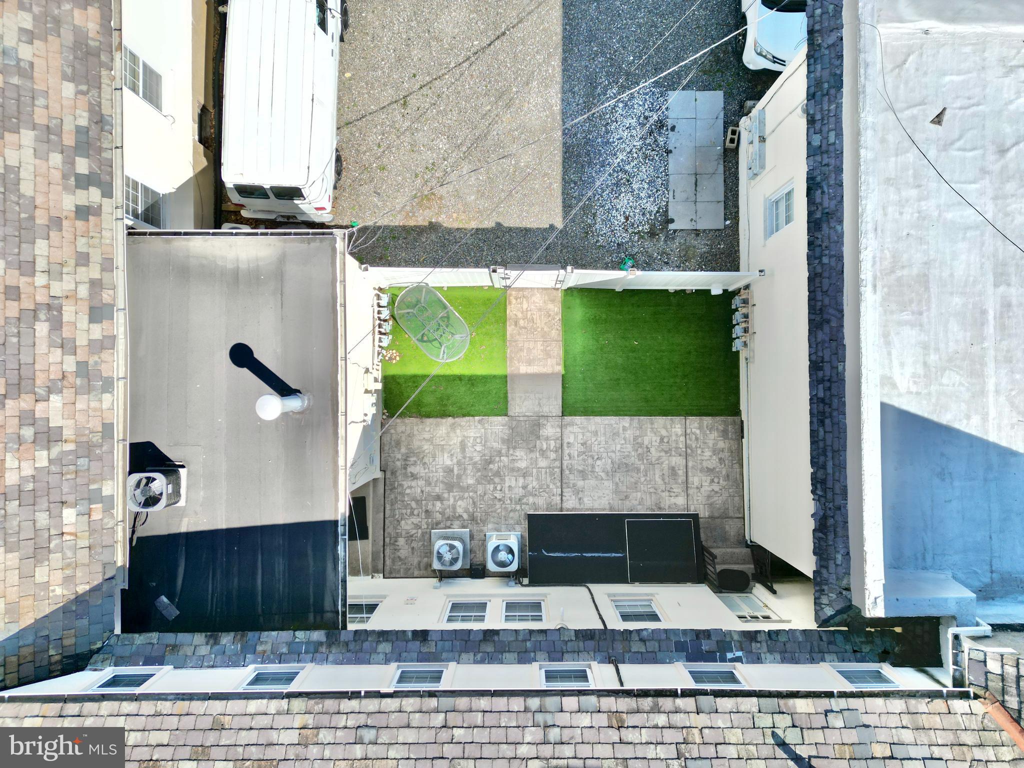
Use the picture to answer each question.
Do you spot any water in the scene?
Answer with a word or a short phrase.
No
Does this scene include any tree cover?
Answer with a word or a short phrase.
No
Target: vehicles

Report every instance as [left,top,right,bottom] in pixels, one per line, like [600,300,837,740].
[730,0,801,81]
[221,0,351,228]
